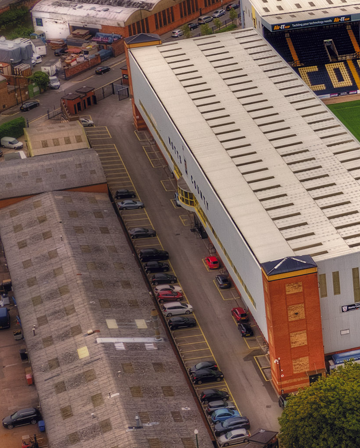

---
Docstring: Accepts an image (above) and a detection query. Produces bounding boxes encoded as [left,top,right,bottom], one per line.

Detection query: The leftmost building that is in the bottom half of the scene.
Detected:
[0,181,213,448]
